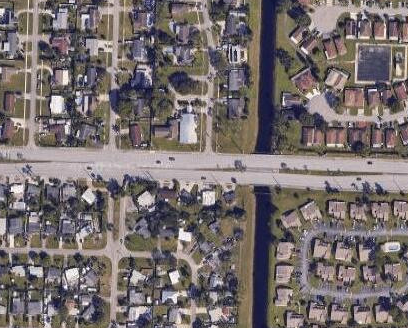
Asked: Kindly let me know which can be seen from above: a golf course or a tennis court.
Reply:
tennis court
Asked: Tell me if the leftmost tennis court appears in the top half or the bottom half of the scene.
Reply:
top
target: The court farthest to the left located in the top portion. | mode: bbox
[356,44,392,83]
